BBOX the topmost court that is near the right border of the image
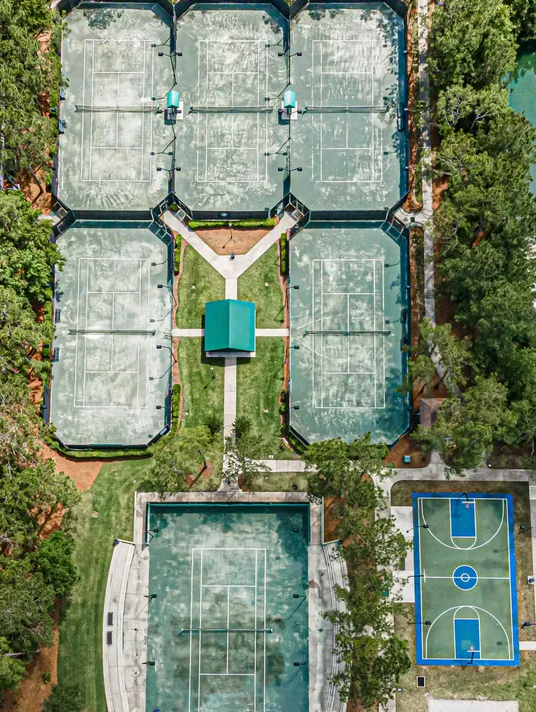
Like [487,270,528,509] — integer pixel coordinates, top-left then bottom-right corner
[413,493,519,665]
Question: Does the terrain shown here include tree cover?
Yes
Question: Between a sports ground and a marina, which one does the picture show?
sports ground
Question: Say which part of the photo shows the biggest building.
center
